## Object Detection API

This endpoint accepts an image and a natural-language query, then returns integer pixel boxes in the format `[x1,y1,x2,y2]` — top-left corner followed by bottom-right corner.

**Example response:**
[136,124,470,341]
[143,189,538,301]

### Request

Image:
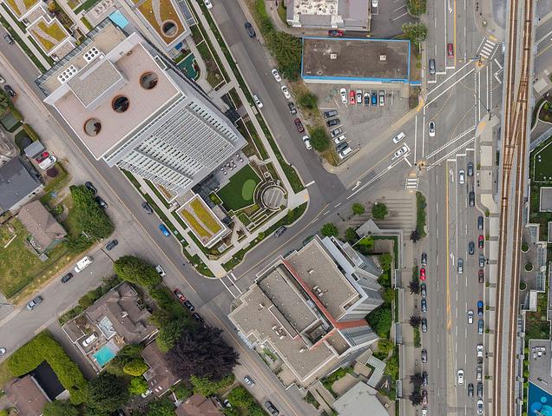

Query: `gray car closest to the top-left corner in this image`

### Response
[2,31,16,47]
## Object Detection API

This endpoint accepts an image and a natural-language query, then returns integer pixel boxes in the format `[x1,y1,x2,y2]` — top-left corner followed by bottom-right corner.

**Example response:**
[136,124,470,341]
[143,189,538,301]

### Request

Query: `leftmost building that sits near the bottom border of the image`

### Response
[5,363,73,416]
